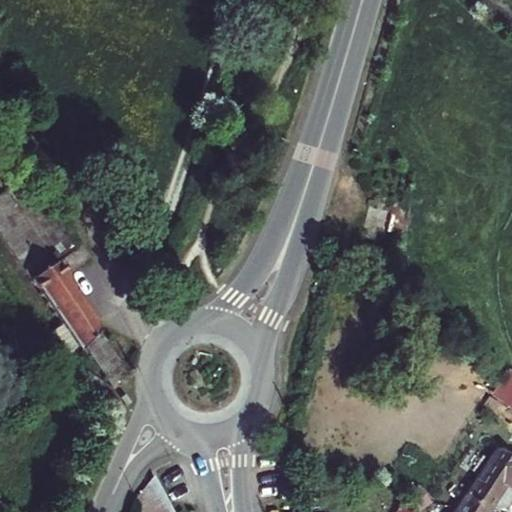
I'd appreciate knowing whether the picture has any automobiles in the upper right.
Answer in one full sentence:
No, looking in the upper right, there is no automobile.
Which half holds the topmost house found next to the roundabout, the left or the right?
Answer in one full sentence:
You can find the topmost house found next to the roundabout on the left side of the picture.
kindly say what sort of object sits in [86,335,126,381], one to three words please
shed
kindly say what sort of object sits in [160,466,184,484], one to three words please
car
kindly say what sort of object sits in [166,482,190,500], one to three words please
car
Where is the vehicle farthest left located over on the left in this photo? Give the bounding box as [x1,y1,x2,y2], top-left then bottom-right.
[74,270,93,296]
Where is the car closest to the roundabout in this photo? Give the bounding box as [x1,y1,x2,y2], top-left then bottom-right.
[192,452,208,477]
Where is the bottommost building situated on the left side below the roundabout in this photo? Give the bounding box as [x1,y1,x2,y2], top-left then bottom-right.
[137,474,176,512]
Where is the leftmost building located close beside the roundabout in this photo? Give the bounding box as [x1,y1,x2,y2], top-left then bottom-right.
[35,256,104,348]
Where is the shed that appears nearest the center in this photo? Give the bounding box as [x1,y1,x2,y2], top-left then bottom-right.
[365,206,388,228]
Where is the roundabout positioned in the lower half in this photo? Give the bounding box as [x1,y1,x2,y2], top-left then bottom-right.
[136,306,276,452]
